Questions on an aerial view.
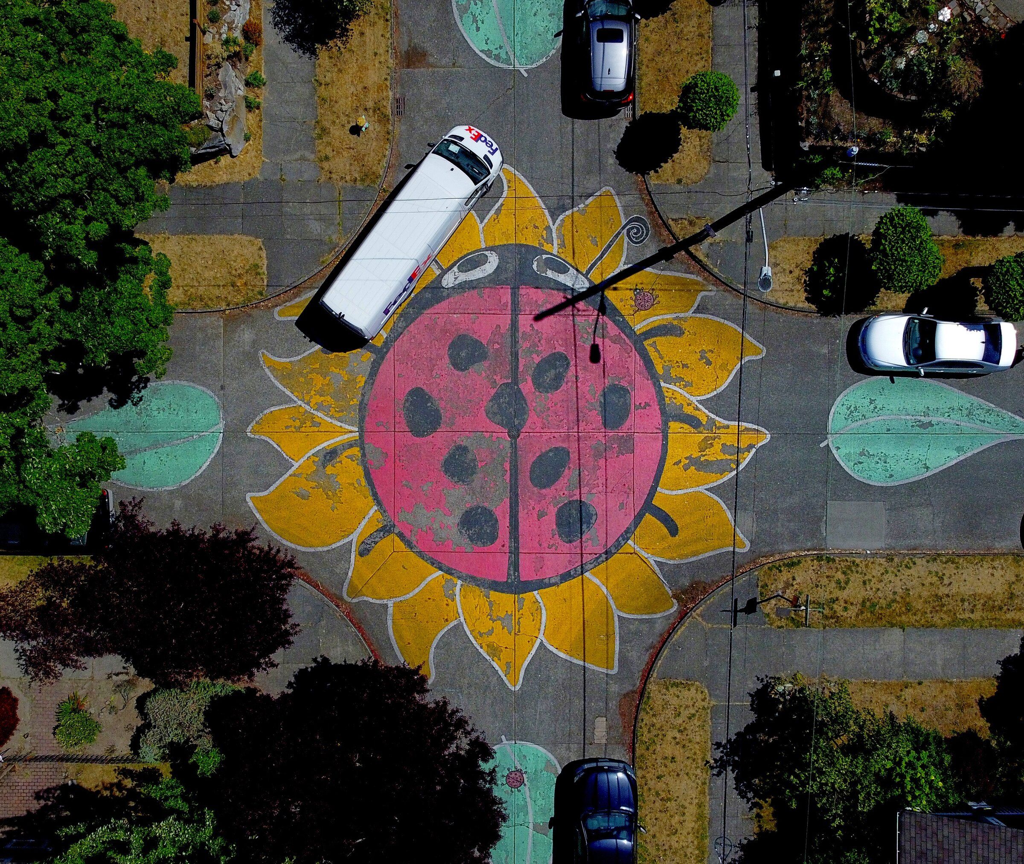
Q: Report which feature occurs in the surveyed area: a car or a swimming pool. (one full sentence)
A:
Of the two, only a car appears.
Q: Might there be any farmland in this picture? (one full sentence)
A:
No, there's no farmland in this view.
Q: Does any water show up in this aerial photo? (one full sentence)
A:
No, water can't be seen anywhere here.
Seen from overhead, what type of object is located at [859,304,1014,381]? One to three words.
car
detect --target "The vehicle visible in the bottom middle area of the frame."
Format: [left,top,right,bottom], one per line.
[562,756,644,864]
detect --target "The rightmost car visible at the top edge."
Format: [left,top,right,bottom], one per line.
[567,0,647,107]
